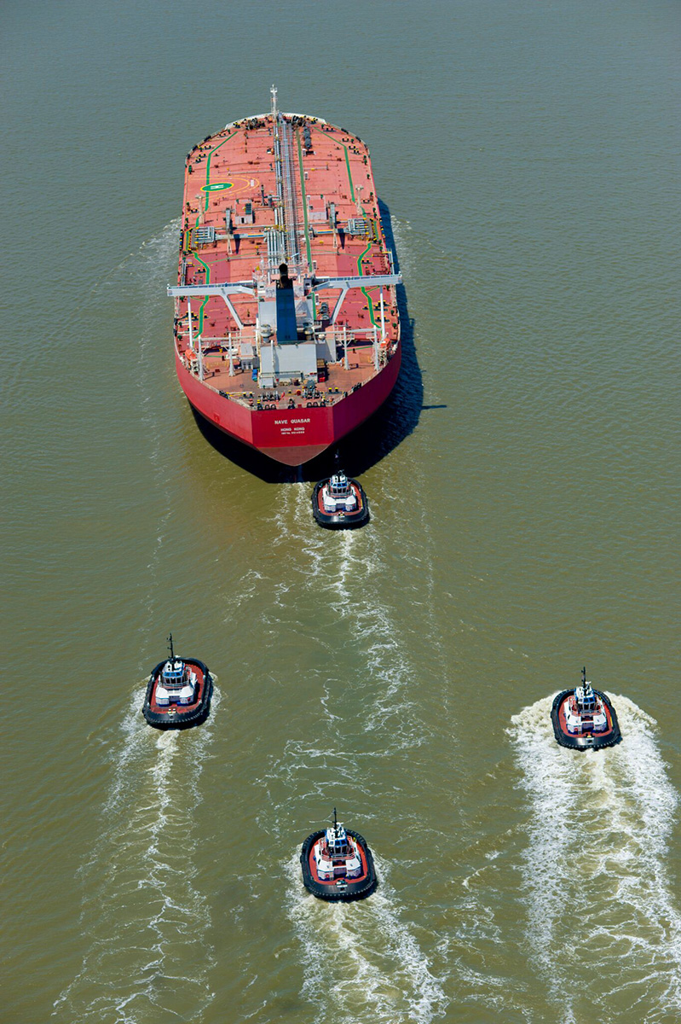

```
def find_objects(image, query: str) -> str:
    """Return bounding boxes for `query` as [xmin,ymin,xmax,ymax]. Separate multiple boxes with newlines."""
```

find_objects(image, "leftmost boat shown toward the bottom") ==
[144,636,210,730]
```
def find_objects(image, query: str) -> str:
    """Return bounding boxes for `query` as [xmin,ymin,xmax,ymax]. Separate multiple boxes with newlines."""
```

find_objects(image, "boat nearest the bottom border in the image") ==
[302,804,377,904]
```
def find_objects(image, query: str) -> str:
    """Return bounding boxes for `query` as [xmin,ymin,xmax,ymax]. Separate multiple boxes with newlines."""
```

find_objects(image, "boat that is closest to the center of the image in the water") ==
[313,452,369,529]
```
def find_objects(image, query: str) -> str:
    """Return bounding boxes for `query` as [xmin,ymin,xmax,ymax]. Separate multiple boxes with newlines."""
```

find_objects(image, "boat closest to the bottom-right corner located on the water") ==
[552,662,624,750]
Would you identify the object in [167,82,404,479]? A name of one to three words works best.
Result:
ship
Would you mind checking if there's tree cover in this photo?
No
